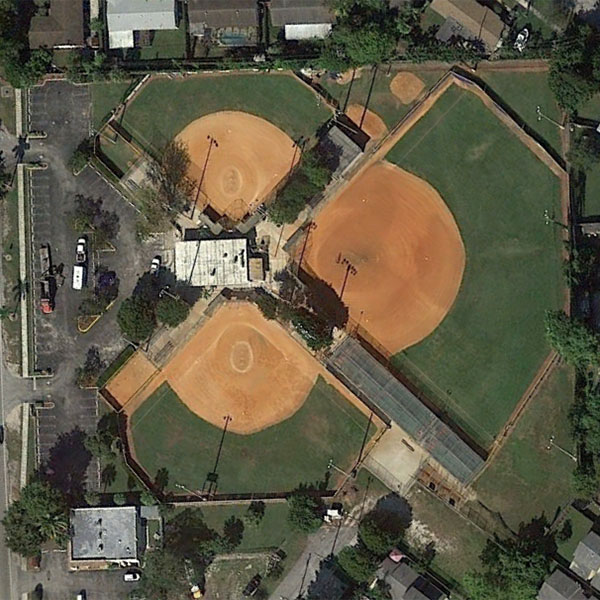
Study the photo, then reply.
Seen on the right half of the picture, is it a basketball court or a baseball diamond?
baseball diamond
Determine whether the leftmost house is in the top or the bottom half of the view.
top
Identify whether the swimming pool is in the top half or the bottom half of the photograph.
top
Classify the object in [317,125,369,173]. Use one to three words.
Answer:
shed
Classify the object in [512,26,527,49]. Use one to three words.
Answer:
boat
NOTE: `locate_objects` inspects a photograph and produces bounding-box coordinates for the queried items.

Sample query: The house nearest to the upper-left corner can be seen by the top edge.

[50,0,86,47]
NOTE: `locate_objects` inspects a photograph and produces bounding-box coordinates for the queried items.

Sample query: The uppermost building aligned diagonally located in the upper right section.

[428,0,506,54]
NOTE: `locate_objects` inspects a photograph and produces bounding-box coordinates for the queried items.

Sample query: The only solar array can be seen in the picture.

[413,577,449,600]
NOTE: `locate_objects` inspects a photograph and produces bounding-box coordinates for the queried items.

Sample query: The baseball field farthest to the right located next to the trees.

[296,74,572,473]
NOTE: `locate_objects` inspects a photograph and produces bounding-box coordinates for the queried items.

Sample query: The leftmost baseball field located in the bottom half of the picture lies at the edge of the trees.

[121,302,387,501]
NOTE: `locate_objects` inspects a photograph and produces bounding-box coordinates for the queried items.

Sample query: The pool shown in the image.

[204,26,258,47]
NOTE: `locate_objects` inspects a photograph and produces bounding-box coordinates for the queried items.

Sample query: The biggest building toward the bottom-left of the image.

[70,506,143,569]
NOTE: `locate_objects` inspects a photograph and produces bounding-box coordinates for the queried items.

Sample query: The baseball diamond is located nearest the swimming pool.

[119,71,340,218]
